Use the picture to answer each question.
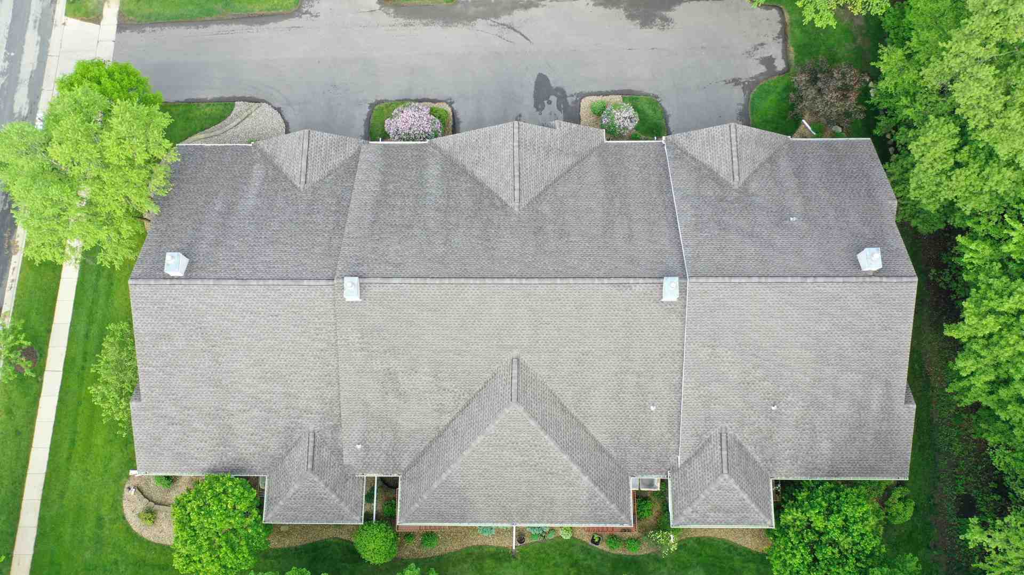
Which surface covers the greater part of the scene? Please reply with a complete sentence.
Most of the picture is covered by buildings.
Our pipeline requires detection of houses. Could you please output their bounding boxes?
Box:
[129,119,918,553]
